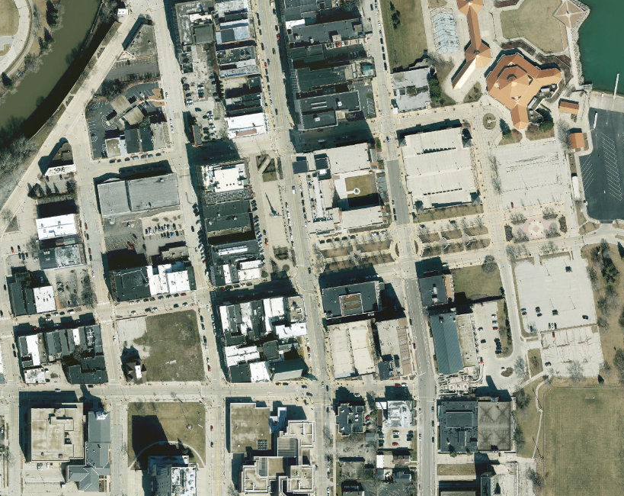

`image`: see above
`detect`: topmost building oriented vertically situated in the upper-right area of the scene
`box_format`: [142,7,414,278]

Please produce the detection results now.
[454,0,491,89]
